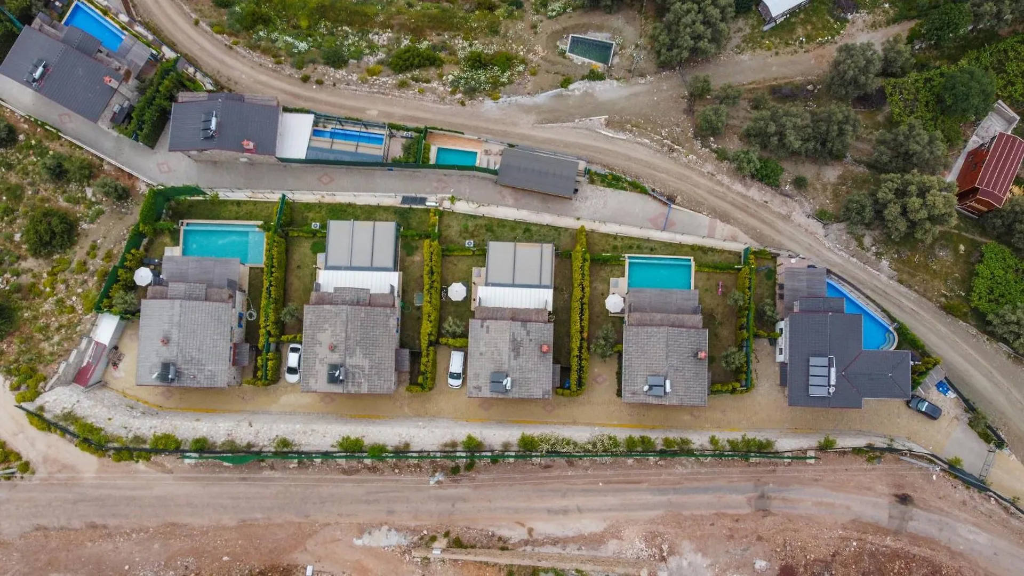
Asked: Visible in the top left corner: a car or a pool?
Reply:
pool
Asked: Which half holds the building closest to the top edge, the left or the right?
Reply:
right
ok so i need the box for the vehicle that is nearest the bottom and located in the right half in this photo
[904,394,943,421]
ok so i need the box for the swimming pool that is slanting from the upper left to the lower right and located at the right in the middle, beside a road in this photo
[826,280,899,350]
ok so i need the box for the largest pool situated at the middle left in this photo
[180,220,267,267]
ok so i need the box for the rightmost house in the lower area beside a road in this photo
[773,297,912,409]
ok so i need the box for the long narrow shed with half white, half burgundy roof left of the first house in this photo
[67,313,121,387]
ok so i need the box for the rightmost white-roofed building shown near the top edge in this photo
[748,0,811,30]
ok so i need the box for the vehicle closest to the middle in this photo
[447,350,466,387]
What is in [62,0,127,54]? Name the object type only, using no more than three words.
swimming pool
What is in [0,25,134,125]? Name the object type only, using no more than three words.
house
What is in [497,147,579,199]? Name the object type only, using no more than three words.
house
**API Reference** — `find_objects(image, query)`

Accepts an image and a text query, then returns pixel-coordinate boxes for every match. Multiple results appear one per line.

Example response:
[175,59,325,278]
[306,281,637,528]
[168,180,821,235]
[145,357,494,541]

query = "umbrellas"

[136,267,157,285]
[605,294,623,312]
[448,282,466,300]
